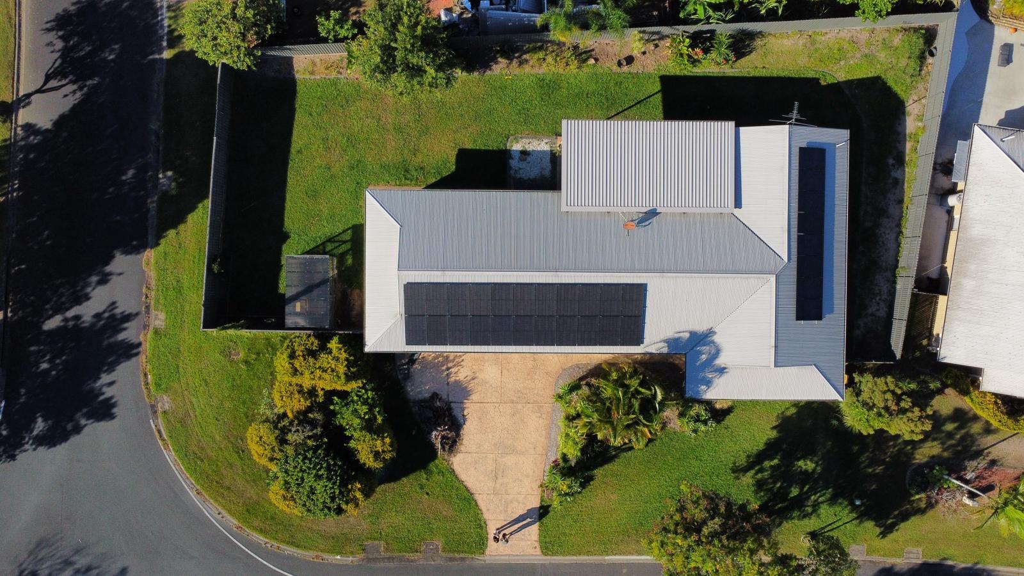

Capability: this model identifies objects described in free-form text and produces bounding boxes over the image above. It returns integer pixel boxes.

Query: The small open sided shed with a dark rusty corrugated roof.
[285,255,340,328]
